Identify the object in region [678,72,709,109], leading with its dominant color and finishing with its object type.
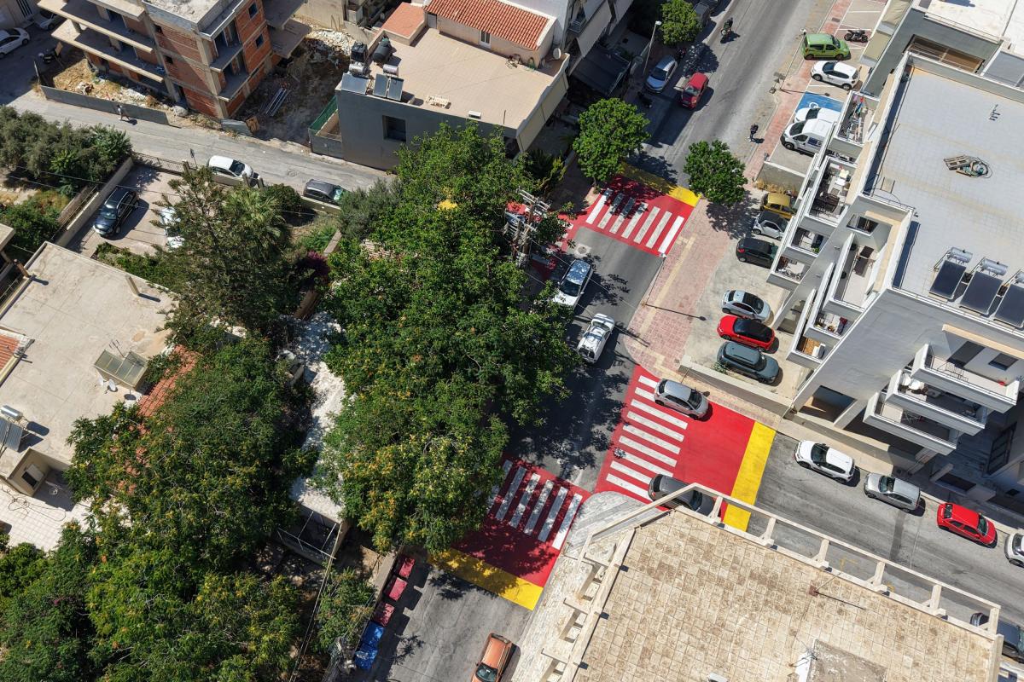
red car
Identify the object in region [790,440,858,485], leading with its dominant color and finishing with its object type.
white car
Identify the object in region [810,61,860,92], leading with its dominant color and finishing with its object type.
white car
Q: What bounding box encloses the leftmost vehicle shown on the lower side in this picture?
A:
[464,627,514,682]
